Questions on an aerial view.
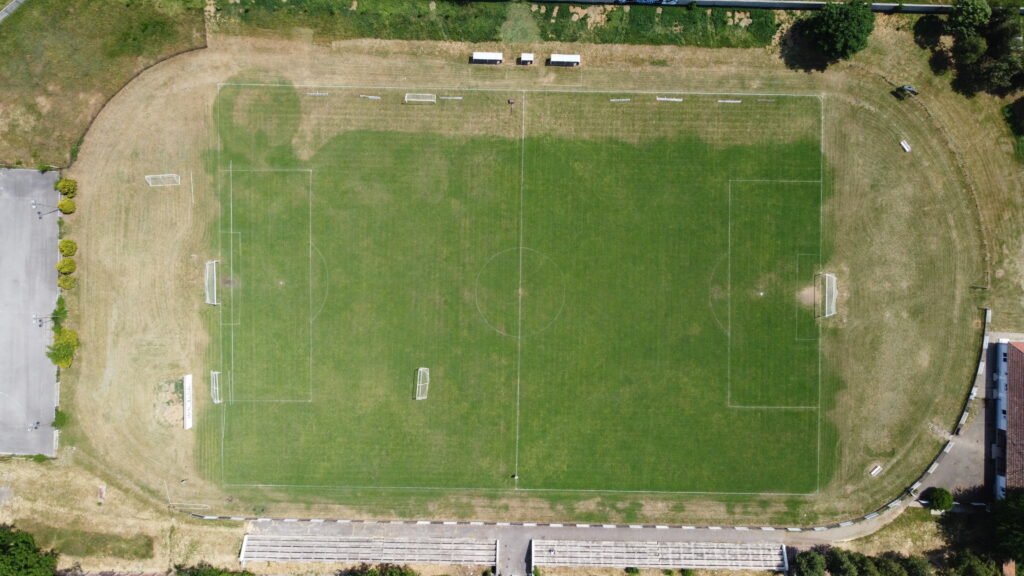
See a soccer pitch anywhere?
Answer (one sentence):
Yes, a soccer pitch is visible in the scene.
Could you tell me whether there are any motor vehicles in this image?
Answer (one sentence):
No, I find no motor vehicle anywhere in the image.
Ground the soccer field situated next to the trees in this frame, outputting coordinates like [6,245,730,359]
[216,83,833,497]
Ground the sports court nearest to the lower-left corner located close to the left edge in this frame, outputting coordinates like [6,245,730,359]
[0,166,60,460]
